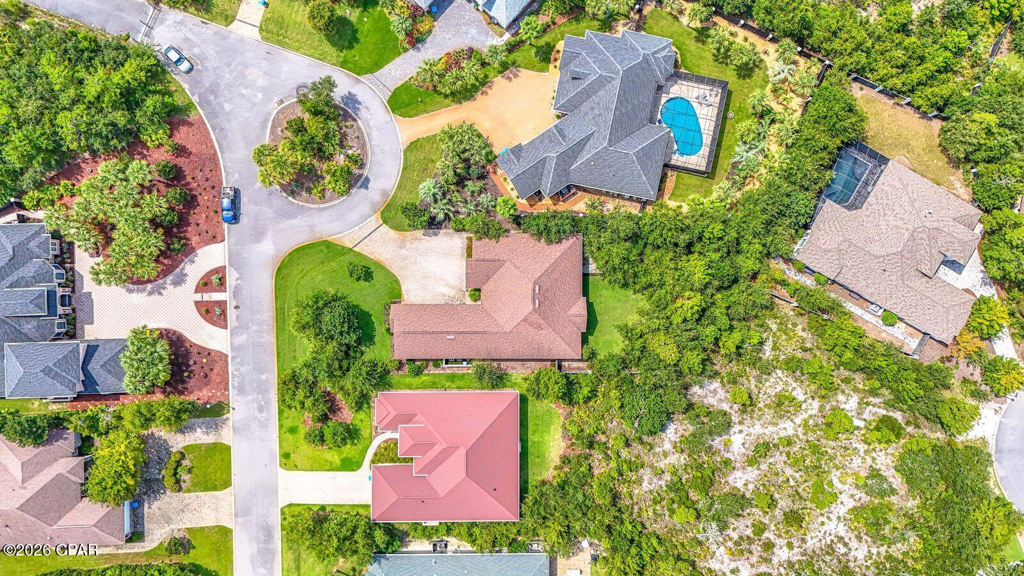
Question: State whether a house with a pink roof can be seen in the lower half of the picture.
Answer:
Yes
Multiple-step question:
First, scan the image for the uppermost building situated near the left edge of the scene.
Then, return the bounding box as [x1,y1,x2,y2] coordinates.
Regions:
[0,223,138,400]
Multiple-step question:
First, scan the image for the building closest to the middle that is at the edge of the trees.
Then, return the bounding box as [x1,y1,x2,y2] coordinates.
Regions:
[389,232,588,360]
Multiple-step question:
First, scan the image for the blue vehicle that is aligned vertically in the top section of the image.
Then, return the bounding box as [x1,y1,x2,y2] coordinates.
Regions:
[220,186,237,224]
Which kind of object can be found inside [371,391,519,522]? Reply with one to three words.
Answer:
house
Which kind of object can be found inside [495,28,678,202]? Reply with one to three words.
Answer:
house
